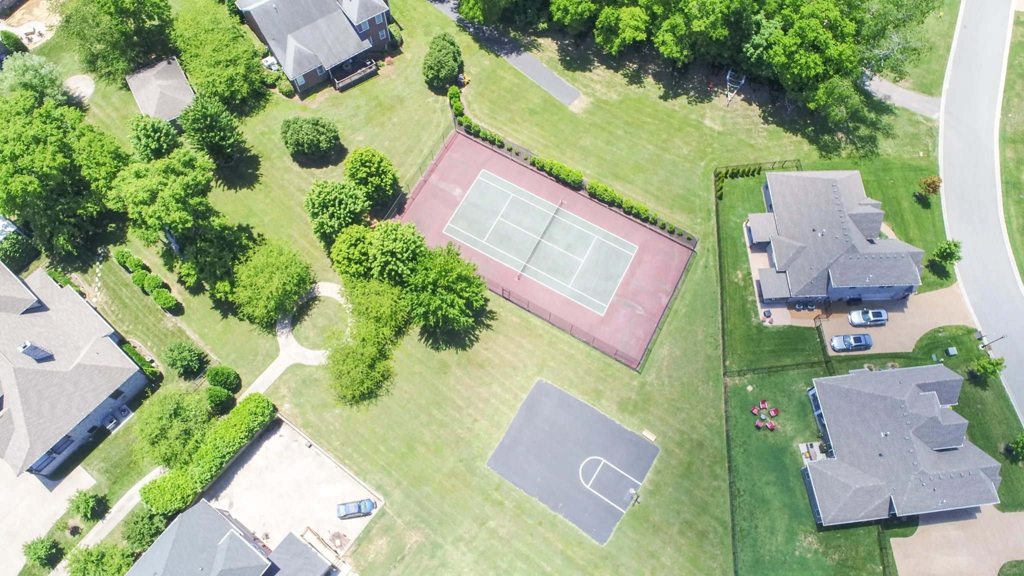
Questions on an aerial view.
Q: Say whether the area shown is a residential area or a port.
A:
residential area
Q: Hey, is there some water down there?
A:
No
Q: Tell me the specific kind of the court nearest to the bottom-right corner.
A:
basketball court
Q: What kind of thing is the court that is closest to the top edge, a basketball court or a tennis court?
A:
tennis court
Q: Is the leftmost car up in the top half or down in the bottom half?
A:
bottom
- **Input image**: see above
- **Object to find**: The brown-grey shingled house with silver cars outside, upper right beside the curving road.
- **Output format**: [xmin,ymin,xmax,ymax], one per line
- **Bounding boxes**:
[743,170,925,304]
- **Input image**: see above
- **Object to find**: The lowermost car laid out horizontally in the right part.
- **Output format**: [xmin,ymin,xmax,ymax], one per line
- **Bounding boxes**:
[830,333,873,351]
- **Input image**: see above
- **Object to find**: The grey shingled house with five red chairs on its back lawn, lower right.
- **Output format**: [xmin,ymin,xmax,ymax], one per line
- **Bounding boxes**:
[802,363,1002,527]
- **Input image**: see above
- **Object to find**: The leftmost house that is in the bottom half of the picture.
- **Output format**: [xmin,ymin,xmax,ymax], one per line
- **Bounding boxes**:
[0,259,147,478]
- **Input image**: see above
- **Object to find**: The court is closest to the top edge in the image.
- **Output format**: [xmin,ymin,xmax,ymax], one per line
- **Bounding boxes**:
[381,129,695,372]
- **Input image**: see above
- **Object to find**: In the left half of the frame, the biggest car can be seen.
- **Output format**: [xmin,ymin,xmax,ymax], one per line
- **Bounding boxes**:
[336,497,378,519]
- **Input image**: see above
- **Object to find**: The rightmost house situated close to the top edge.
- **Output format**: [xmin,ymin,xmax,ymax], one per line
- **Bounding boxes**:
[234,0,393,94]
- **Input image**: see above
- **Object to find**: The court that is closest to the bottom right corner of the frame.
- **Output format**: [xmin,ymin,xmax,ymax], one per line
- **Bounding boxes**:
[489,381,659,544]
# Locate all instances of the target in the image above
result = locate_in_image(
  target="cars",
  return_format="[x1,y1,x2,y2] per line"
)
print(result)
[336,497,378,519]
[847,308,889,327]
[830,333,873,351]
